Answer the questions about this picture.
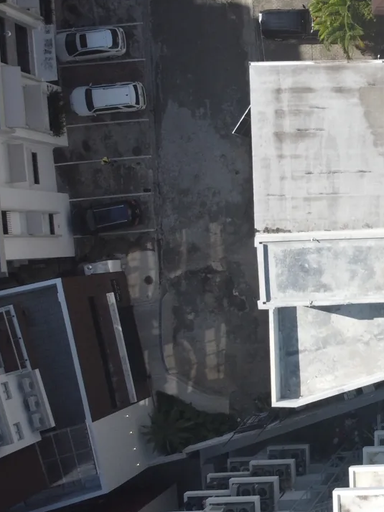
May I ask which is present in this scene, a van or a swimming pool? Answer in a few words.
van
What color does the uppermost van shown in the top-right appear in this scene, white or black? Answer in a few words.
black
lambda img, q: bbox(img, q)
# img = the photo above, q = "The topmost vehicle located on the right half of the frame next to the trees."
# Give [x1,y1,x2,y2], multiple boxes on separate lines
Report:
[255,6,317,41]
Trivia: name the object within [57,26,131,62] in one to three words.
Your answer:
car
